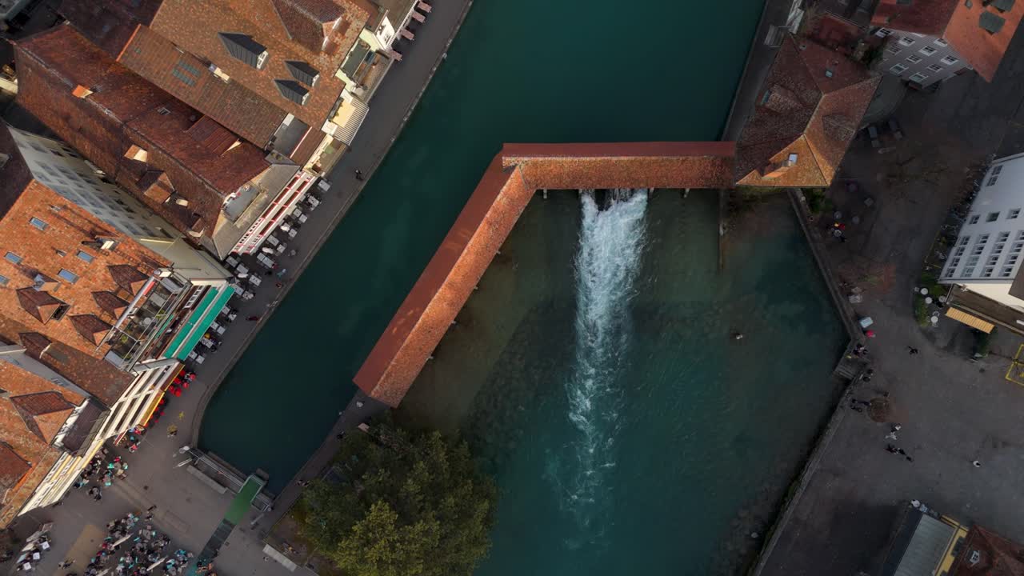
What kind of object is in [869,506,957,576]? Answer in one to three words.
building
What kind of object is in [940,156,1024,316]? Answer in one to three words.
building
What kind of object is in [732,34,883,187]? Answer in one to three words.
house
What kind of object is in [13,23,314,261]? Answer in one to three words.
house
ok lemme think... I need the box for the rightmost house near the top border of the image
[851,0,1024,96]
